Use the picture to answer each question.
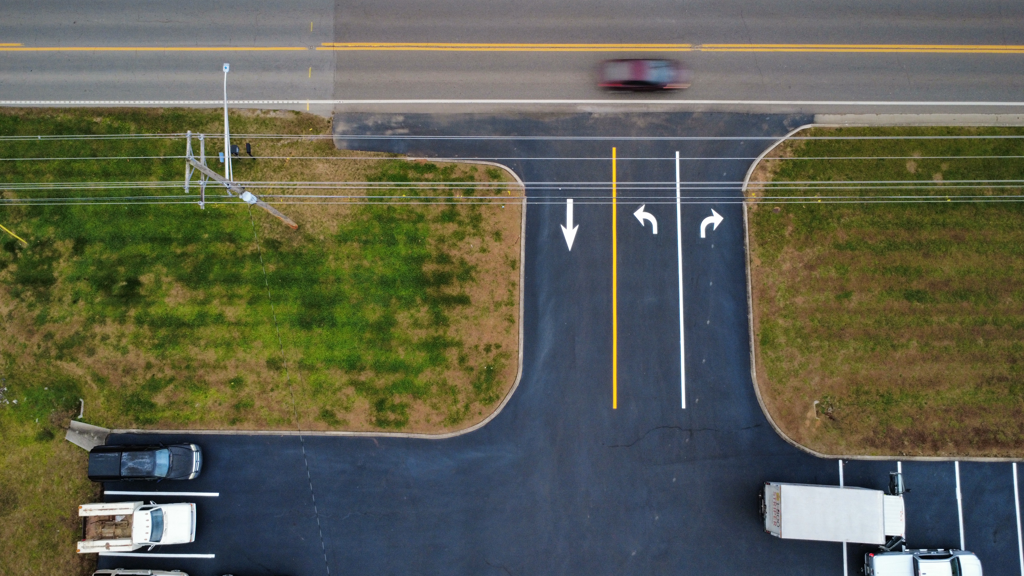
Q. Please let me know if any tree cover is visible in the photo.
No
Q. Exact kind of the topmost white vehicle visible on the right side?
truck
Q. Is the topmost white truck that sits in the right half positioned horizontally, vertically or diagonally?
horizontally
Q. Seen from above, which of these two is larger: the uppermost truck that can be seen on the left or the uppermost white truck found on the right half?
the uppermost white truck found on the right half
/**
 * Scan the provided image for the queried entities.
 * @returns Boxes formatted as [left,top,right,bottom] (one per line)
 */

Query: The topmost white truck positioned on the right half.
[752,472,908,553]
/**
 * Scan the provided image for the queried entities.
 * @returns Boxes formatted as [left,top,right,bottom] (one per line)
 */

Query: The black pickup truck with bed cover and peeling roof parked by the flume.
[88,440,205,487]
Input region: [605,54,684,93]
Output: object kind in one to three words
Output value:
car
